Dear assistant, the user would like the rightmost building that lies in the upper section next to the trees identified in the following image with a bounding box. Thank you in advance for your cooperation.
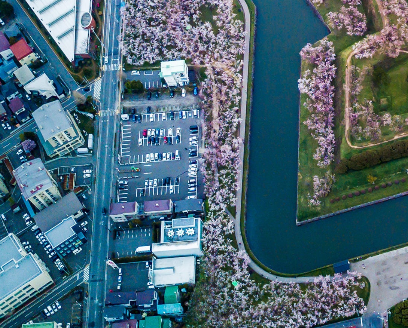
[160,61,189,87]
